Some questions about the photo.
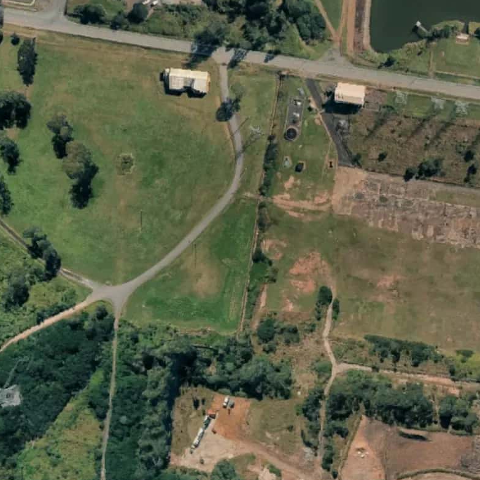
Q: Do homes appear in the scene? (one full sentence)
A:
Yes, this view includes a home.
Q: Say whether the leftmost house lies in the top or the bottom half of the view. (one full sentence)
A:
The top half of the photo is where the leftmost house is.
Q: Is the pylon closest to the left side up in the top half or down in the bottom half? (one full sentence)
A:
The bottom half of the photo is where the pylon closest to the left side is.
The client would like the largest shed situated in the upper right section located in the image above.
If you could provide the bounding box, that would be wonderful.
[335,82,367,106]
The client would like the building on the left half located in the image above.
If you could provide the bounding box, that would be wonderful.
[163,68,208,92]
